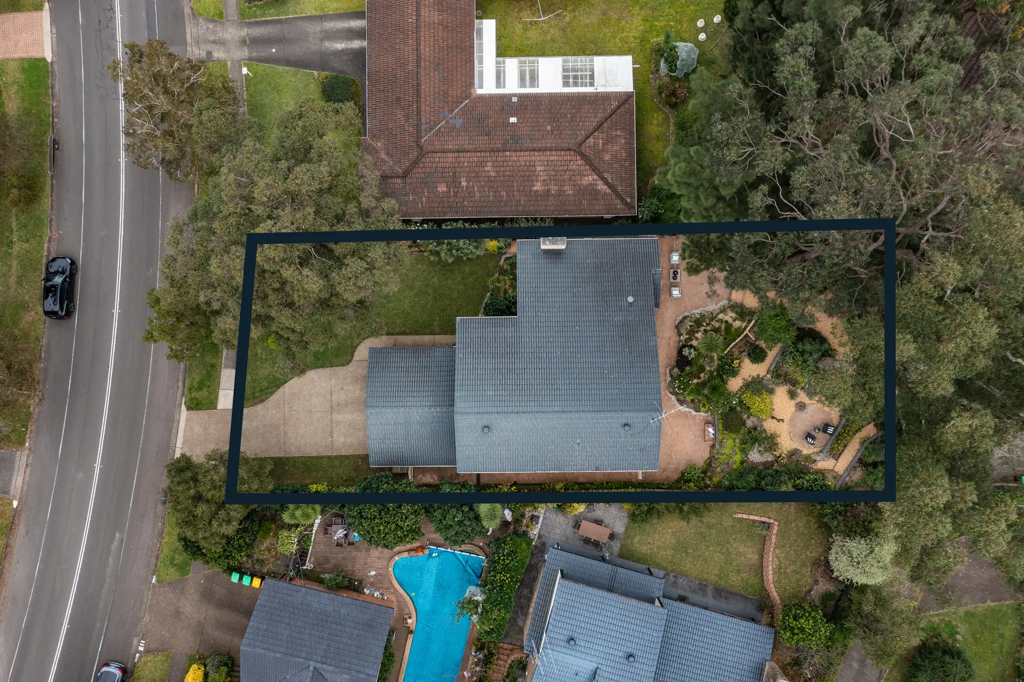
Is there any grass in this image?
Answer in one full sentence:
Yes, there is grass in the image.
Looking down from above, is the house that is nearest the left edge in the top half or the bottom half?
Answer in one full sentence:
The house that is nearest the left edge is in the bottom half of the image.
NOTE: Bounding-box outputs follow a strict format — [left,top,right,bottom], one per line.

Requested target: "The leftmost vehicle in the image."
[39,256,77,320]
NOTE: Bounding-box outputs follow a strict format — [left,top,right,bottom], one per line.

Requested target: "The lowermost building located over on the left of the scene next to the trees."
[239,572,396,682]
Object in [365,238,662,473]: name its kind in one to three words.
house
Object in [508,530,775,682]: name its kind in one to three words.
house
